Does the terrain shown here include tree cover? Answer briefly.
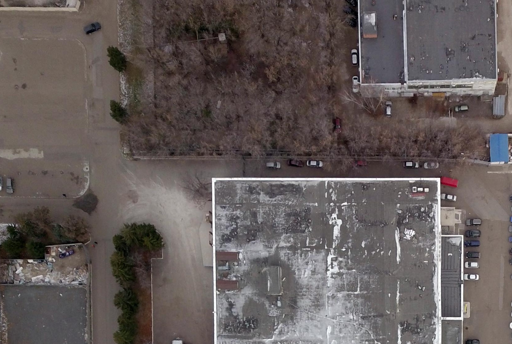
Yes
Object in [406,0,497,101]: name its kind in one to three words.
building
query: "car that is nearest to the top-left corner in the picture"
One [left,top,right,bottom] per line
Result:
[84,22,101,35]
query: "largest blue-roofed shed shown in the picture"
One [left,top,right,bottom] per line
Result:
[489,134,509,165]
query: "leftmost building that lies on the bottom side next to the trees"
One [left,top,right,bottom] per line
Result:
[212,178,440,344]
